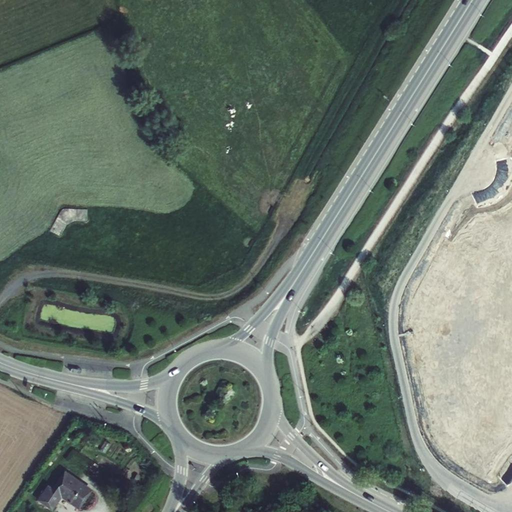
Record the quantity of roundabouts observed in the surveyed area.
1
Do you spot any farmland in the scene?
Yes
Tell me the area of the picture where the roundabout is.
bottom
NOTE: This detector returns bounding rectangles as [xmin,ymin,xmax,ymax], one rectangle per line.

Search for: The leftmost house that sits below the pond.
[39,471,92,512]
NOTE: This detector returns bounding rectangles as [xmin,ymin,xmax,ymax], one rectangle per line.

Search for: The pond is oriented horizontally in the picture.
[34,299,123,338]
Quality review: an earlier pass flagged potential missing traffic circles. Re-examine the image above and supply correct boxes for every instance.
[157,340,282,465]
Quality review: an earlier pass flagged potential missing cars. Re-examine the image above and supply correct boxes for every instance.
[70,368,82,374]
[362,491,374,502]
[168,368,180,376]
[318,461,329,471]
[132,404,146,412]
[286,289,296,302]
